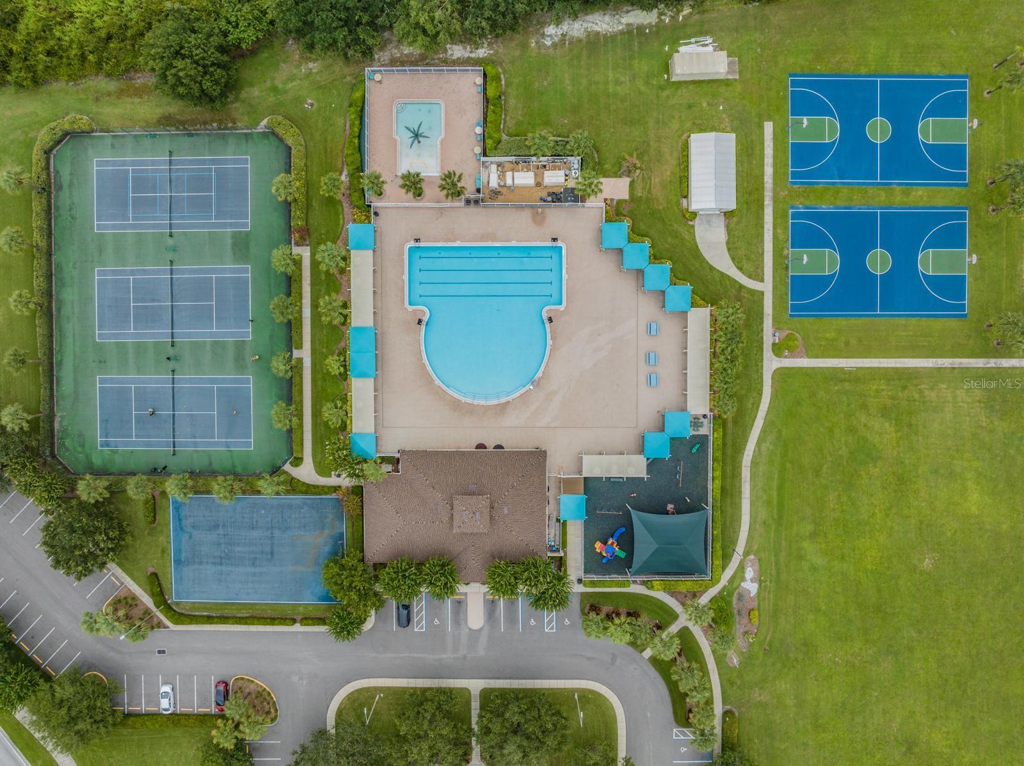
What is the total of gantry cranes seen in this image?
0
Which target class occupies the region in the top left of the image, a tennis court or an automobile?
tennis court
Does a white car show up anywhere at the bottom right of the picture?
No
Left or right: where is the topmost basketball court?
right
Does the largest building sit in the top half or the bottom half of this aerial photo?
bottom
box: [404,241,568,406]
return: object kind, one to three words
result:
swimming pool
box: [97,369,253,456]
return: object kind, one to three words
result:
tennis court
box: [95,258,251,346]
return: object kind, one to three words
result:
tennis court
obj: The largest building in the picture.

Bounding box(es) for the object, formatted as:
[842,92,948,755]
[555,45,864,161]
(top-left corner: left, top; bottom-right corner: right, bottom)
[363,449,548,584]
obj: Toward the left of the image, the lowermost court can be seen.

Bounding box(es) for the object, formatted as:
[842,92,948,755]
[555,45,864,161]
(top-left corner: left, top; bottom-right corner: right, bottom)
[170,496,346,604]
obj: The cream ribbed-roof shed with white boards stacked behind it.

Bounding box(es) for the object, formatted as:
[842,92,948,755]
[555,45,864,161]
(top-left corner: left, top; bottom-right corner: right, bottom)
[668,52,731,80]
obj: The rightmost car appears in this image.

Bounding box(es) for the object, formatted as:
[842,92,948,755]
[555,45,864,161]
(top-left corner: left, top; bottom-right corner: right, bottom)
[396,597,411,629]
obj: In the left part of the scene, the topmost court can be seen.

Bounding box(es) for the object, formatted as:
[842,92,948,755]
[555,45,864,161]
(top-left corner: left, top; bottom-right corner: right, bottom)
[94,146,250,237]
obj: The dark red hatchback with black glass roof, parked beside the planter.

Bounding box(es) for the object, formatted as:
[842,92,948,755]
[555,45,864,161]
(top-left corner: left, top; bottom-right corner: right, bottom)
[213,680,230,711]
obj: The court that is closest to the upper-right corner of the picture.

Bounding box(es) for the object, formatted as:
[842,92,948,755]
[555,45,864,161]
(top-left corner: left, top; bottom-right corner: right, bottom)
[789,73,968,186]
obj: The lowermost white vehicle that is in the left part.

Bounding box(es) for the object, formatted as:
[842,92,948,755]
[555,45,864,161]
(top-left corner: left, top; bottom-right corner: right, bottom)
[159,683,175,714]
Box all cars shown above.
[159,683,175,714]
[396,597,411,629]
[213,680,230,711]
